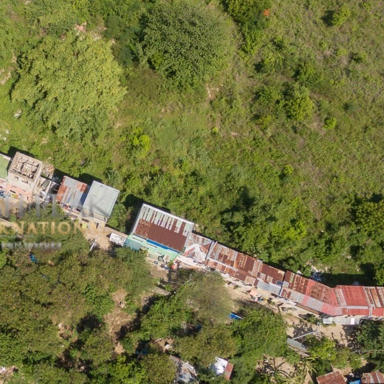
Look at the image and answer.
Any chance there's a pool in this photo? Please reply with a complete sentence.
No, the scene contains no pool.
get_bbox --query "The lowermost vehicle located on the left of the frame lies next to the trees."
[105,231,129,249]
